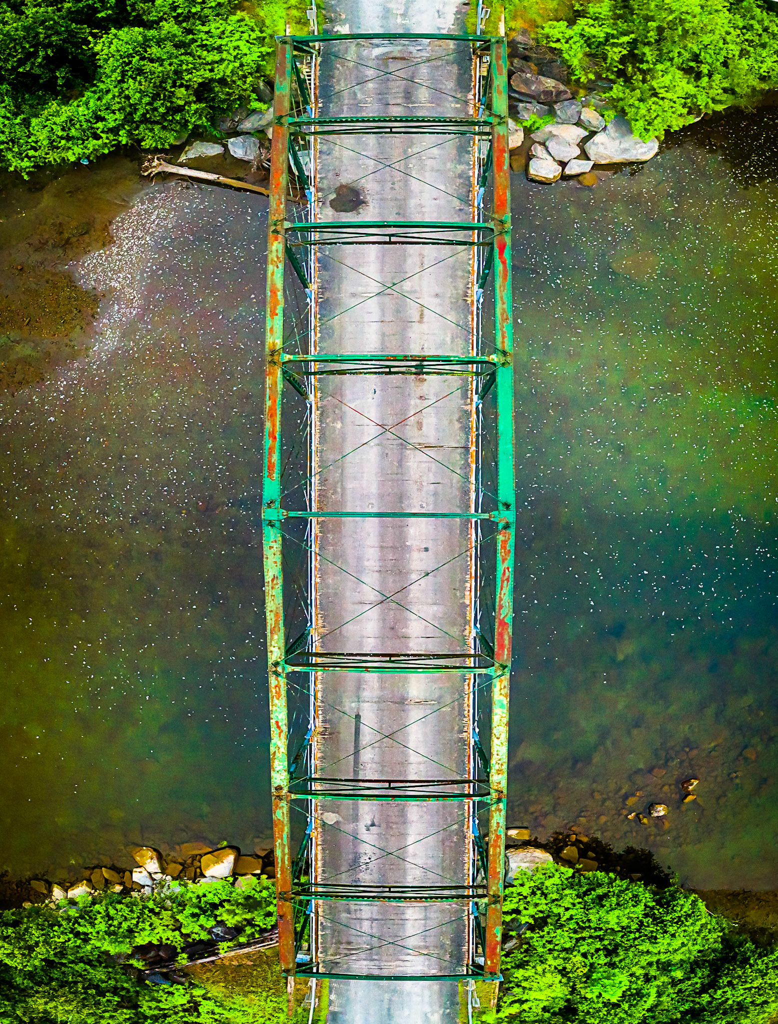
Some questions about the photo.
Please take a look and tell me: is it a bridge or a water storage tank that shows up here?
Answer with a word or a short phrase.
bridge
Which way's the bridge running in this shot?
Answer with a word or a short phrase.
from top to bottom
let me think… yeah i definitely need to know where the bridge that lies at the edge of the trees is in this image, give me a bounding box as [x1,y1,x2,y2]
[262,31,517,983]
